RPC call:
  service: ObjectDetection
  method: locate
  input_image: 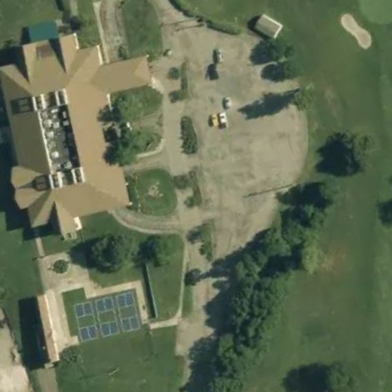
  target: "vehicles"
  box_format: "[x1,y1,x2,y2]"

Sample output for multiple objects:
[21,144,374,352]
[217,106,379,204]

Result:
[210,66,216,80]
[225,96,230,110]
[216,48,223,62]
[220,113,226,128]
[211,113,218,127]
